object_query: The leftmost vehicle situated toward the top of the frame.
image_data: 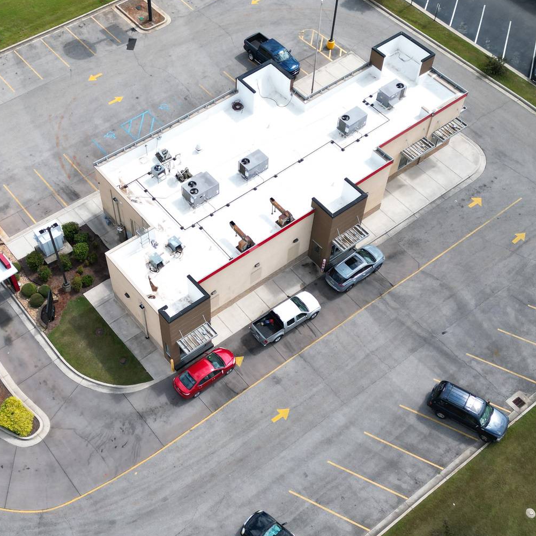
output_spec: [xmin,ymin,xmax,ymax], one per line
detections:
[241,31,297,74]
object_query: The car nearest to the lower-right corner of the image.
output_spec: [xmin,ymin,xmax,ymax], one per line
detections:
[429,382,510,445]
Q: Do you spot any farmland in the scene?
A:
No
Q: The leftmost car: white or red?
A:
red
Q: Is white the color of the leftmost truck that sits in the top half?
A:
No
